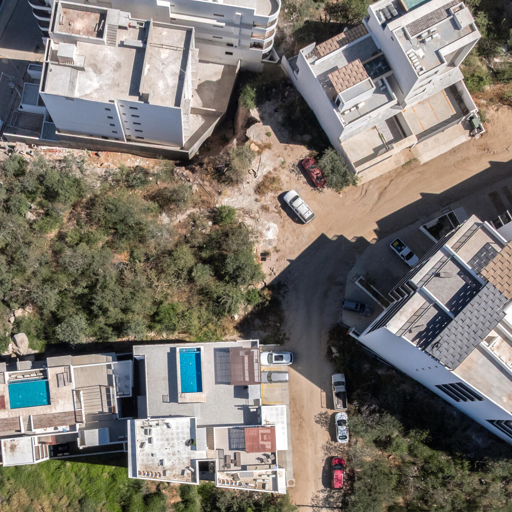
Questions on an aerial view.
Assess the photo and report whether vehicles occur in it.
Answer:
Yes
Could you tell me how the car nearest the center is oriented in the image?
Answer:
on a diagonal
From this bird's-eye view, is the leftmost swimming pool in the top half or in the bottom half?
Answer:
bottom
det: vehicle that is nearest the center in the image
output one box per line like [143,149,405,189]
[285,189,316,224]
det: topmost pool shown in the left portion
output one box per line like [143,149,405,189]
[179,347,202,393]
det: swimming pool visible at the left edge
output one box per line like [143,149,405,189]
[6,376,54,411]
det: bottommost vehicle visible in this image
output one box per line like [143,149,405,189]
[330,457,346,489]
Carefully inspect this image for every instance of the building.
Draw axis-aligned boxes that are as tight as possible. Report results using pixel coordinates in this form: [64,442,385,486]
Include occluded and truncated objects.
[361,215,512,442]
[128,339,287,494]
[280,0,480,177]
[3,0,238,162]
[0,353,138,466]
